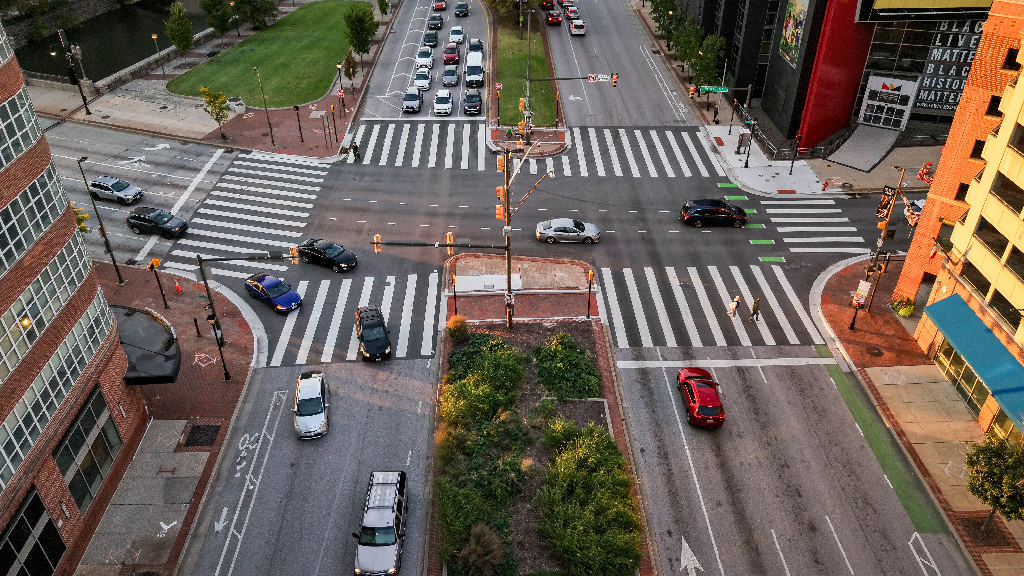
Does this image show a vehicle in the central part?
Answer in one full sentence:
Yes, looking in the central part, one can make out a vehicle.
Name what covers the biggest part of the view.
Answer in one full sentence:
Most of the picture is covered by paved ground.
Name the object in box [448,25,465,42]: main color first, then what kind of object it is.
white car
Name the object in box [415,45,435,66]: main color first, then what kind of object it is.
white car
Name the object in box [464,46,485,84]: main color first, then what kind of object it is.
white vehicle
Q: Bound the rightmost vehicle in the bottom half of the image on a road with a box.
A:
[677,361,727,424]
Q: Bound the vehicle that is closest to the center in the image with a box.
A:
[536,217,602,244]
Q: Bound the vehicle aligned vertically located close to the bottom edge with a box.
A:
[350,469,407,576]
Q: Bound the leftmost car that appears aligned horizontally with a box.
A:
[84,174,143,205]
